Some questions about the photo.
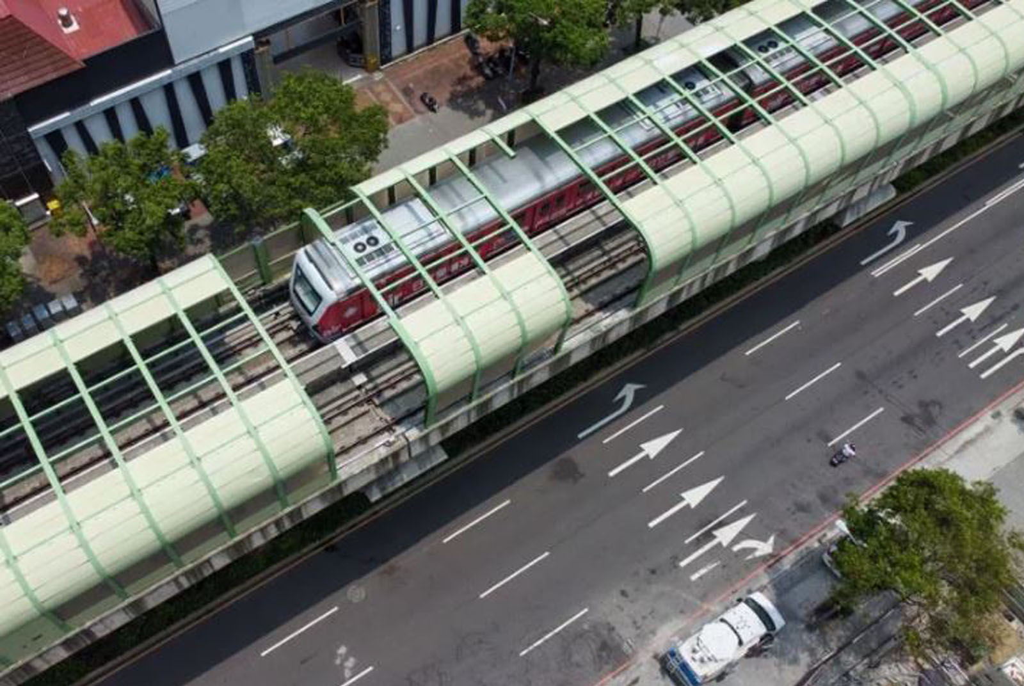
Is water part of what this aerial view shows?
No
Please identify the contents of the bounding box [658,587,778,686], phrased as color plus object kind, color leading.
white van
